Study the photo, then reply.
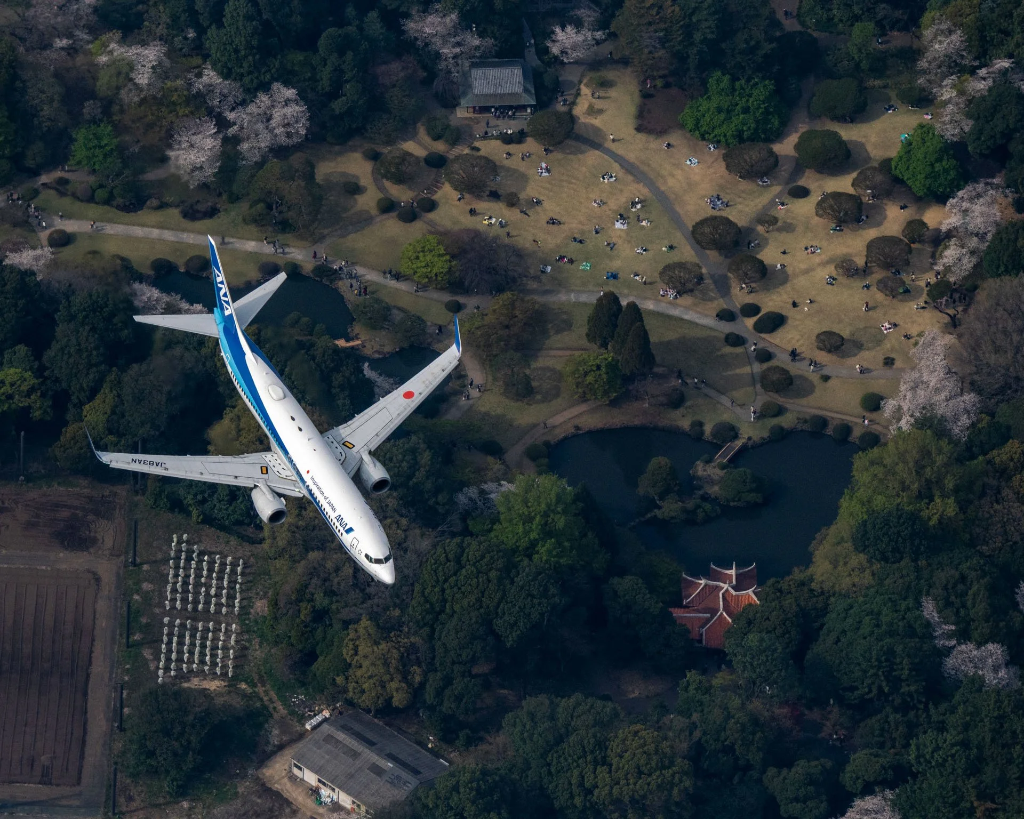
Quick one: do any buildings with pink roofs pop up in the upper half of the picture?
No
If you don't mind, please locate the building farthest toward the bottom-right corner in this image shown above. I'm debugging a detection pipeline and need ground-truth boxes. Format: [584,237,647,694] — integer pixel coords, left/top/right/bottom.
[667,559,777,652]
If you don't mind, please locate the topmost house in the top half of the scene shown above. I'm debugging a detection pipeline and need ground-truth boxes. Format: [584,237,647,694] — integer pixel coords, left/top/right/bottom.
[457,62,535,123]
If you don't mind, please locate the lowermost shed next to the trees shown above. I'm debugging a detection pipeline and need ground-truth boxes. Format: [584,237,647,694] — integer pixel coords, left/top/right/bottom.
[290,709,451,819]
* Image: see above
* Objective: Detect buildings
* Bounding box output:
[290,709,451,819]
[457,62,535,123]
[667,559,777,652]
